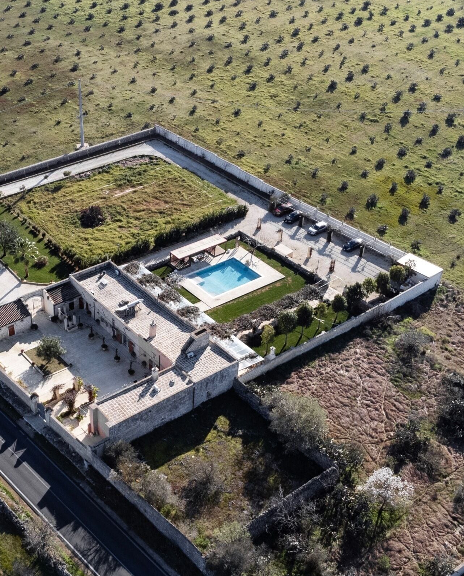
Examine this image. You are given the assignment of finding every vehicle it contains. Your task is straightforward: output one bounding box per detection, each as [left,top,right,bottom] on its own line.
[342,238,363,252]
[273,203,292,215]
[286,211,306,223]
[309,221,329,235]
